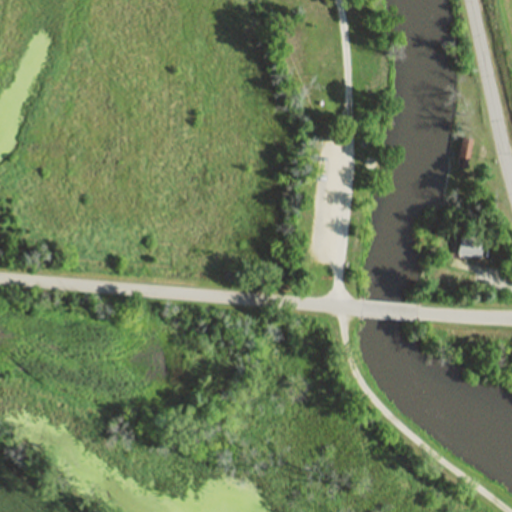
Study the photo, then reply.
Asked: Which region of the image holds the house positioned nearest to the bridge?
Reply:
right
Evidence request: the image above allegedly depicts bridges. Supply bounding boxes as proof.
[361,300,420,322]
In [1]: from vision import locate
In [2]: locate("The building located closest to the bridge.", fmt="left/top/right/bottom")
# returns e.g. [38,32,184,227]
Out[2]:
[459,234,484,258]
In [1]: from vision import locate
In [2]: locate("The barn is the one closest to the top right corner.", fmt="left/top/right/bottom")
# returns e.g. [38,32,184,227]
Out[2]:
[460,136,475,168]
